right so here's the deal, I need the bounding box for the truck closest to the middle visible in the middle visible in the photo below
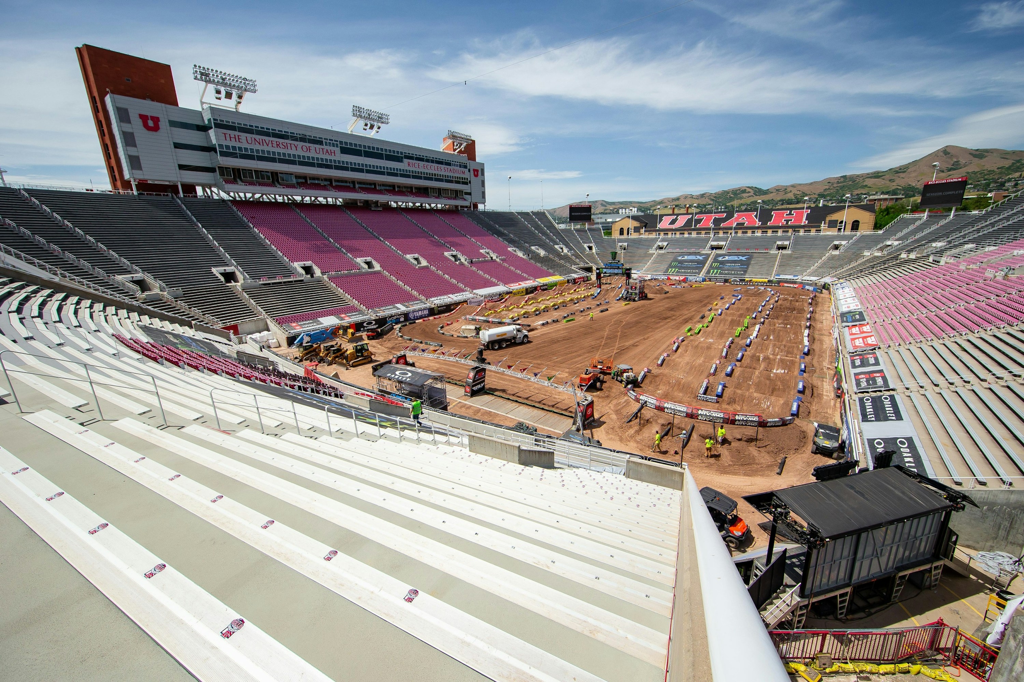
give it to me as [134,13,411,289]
[482,324,538,351]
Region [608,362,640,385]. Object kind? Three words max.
vehicle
